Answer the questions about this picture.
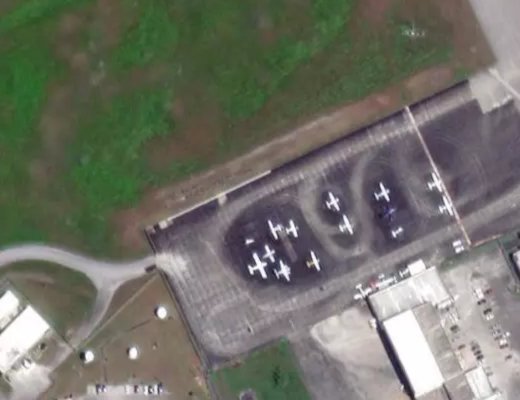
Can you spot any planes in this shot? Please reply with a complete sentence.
Yes, there's a plane down there.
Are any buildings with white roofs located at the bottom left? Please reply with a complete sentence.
Yes, a building with a white roof shows up at the bottom left.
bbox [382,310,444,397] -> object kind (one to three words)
hangar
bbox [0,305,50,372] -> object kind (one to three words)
building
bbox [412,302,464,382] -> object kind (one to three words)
building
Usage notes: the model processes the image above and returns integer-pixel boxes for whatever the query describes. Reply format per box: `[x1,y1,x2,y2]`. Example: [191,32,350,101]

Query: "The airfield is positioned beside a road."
[147,0,520,400]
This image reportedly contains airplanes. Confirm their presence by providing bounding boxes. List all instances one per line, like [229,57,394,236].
[427,173,442,191]
[268,220,283,238]
[273,260,291,280]
[375,182,389,201]
[337,214,353,234]
[284,219,298,237]
[379,203,393,219]
[354,283,371,297]
[305,250,320,270]
[377,273,394,286]
[324,192,339,211]
[261,244,274,262]
[247,252,267,278]
[437,195,452,215]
